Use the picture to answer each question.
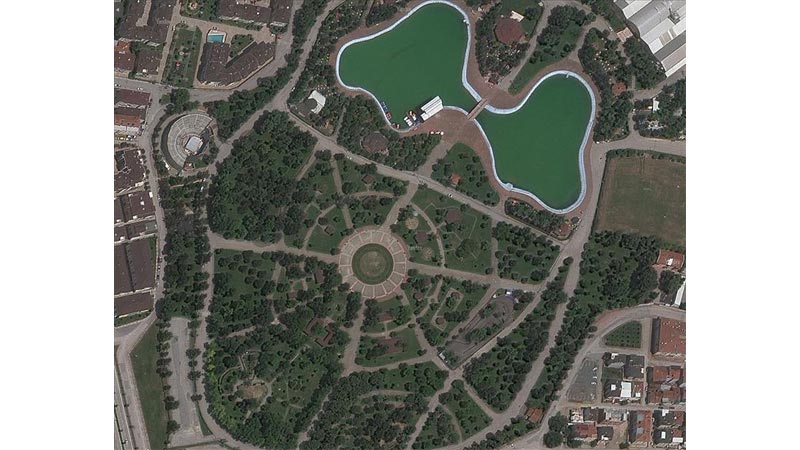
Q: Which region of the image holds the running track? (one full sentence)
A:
The running track is in the bottom part of the image.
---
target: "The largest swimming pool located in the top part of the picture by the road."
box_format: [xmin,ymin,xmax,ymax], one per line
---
[206,30,227,44]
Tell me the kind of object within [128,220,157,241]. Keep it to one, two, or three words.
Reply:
building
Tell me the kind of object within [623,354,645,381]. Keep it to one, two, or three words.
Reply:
building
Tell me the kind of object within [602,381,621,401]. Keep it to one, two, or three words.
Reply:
house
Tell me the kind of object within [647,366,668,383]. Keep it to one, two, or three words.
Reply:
house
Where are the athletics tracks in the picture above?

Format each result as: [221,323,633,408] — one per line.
[445,295,515,366]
